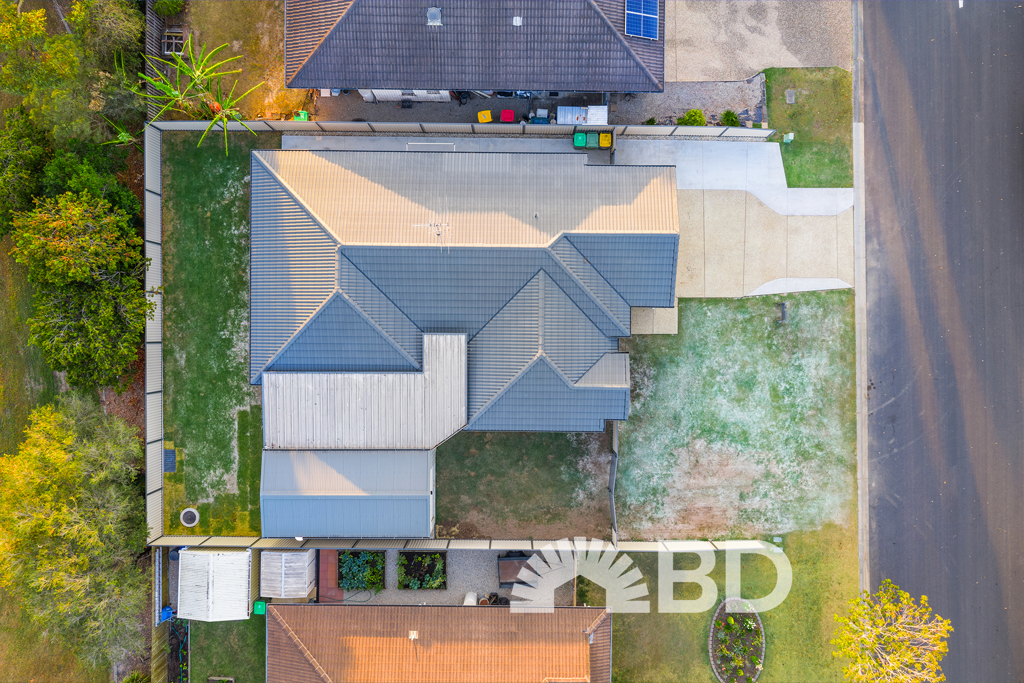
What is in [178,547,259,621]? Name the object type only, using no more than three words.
shed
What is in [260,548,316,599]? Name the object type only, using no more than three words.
shed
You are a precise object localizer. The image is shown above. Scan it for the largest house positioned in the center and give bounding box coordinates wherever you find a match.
[248,148,681,434]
